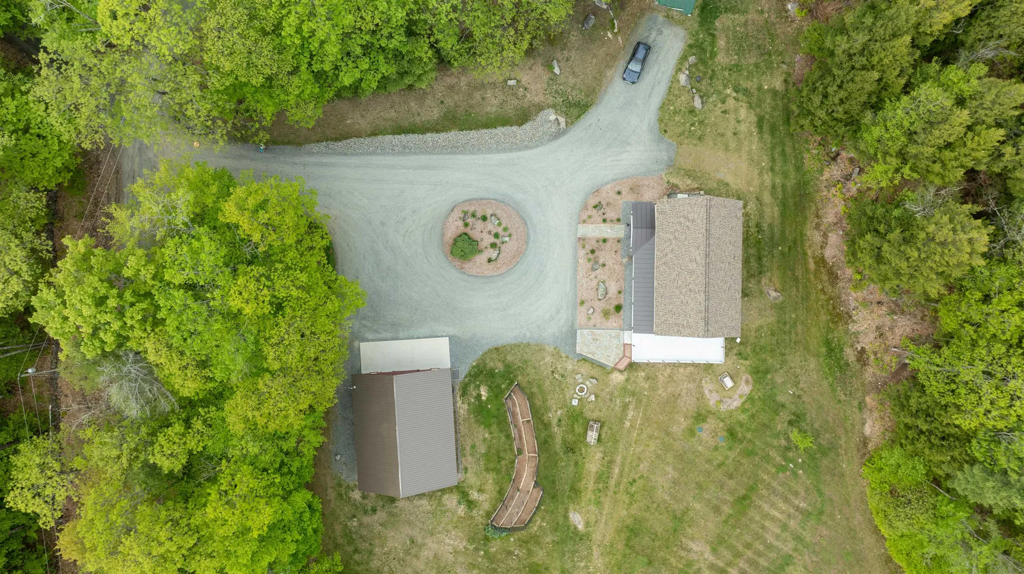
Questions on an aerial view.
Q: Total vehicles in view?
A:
1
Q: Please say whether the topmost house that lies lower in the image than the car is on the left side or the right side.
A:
right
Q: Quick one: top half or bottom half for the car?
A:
top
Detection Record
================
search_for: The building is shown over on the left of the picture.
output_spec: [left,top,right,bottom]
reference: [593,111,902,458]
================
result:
[351,368,459,498]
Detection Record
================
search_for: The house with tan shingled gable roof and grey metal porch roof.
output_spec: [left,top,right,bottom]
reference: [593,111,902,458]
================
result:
[629,196,743,338]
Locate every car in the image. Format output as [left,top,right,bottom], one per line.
[623,41,651,85]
